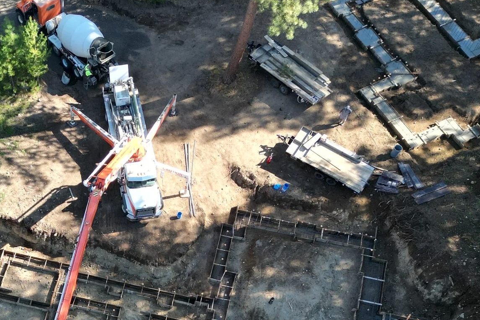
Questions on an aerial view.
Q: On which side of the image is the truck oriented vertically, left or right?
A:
left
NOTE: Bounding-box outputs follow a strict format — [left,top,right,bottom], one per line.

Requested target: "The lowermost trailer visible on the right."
[275,128,377,195]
